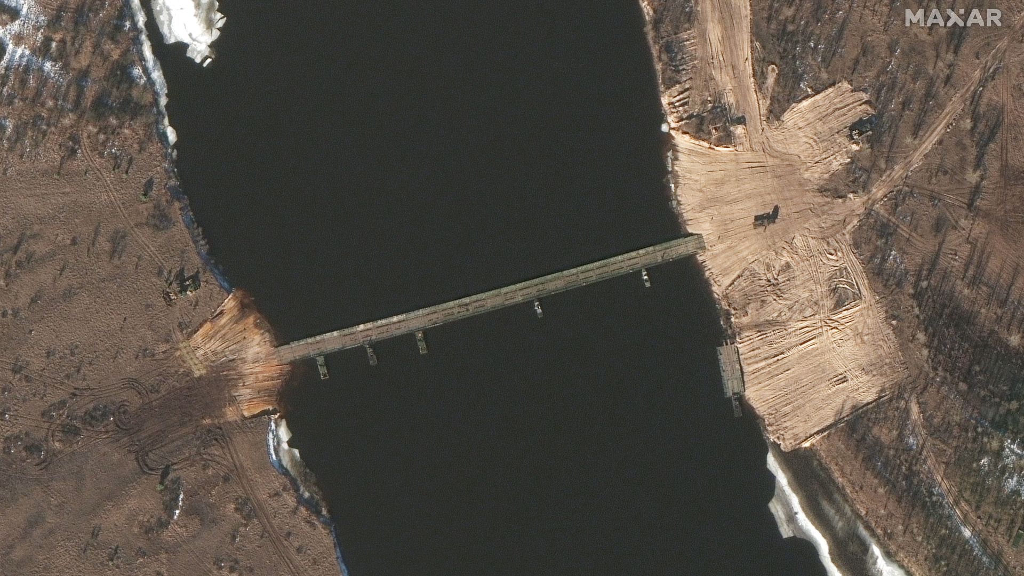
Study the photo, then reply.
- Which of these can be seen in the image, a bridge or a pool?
bridge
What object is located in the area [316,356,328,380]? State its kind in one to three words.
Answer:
boat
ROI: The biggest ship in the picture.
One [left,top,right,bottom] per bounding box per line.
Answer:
[717,340,745,397]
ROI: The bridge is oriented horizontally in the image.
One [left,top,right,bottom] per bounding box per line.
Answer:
[276,234,709,364]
